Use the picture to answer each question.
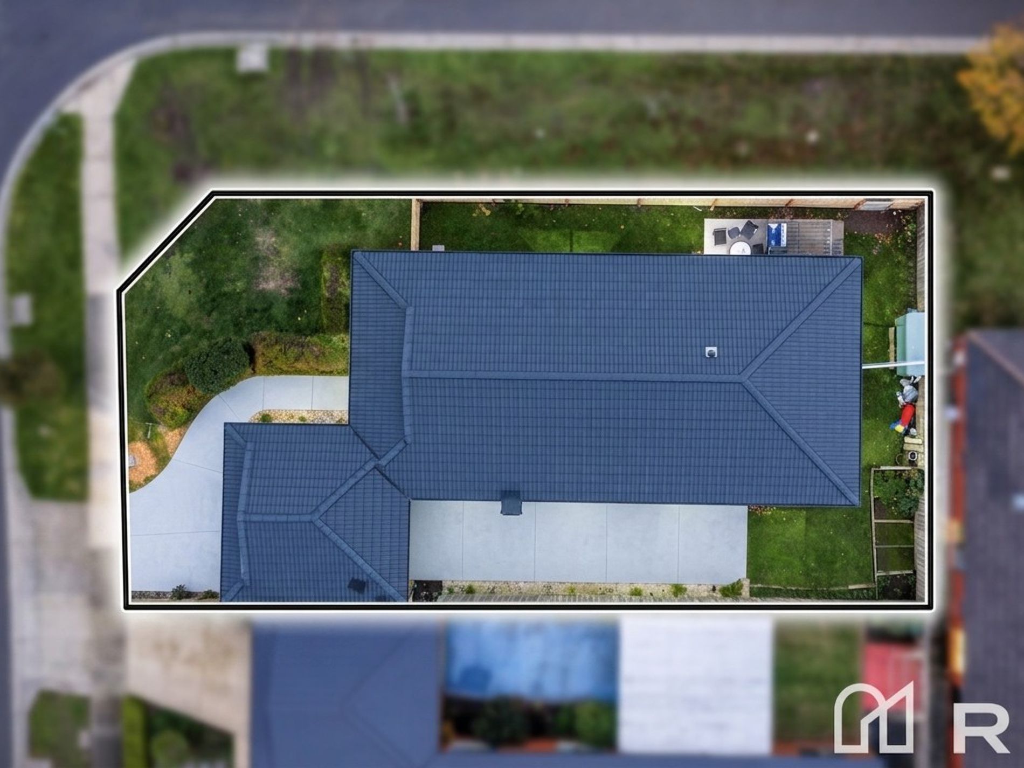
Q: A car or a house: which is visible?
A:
house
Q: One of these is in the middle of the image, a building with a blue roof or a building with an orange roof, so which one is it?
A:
building with a blue roof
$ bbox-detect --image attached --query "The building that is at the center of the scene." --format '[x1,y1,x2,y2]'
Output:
[219,249,864,607]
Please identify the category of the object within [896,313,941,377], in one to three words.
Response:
shed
